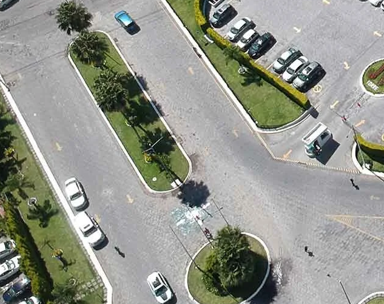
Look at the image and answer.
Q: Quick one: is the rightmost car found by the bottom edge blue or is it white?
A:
white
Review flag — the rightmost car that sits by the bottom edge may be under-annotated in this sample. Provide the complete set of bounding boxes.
[146,269,174,304]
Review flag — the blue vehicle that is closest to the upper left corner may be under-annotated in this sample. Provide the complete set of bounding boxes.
[116,11,136,33]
